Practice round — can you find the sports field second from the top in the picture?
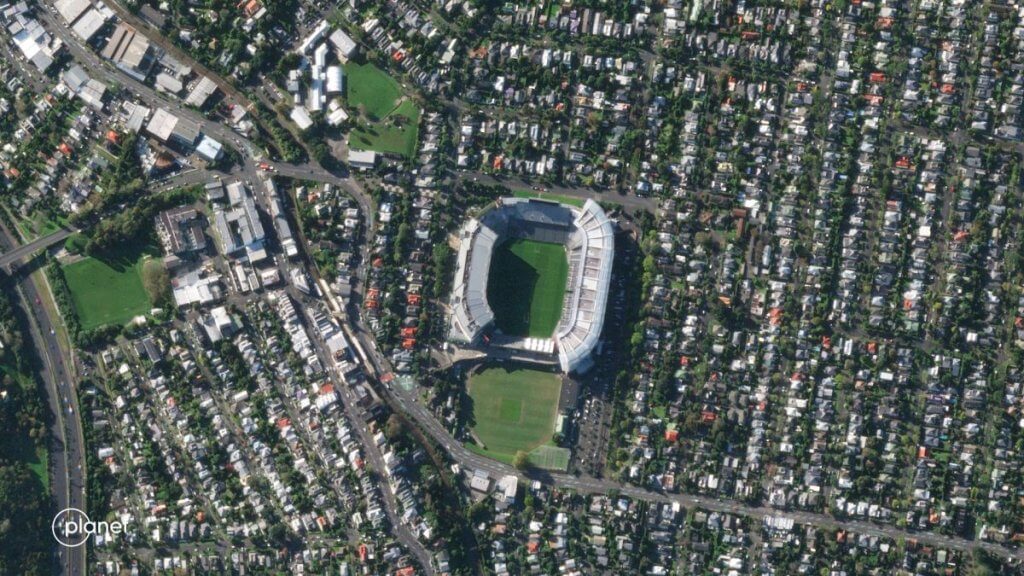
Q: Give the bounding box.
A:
[347,99,419,157]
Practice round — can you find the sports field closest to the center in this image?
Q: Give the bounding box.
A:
[488,239,569,338]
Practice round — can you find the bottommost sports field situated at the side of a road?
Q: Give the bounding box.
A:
[468,367,562,455]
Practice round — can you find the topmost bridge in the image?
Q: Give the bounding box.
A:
[0,225,80,267]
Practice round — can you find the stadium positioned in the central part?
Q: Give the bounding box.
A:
[448,198,615,374]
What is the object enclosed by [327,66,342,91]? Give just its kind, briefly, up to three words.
building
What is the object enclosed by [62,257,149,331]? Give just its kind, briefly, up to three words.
sports field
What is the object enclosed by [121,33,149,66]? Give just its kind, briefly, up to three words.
shed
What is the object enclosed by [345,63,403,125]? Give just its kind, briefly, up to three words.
sports field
